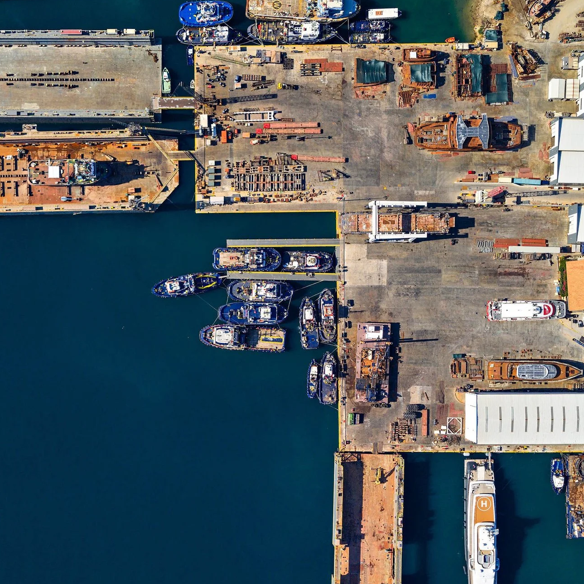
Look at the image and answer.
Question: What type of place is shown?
port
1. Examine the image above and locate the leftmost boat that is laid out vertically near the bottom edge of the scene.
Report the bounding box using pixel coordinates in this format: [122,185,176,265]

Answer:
[462,452,499,584]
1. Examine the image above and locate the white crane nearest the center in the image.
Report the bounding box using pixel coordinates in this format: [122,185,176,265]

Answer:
[361,200,427,246]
